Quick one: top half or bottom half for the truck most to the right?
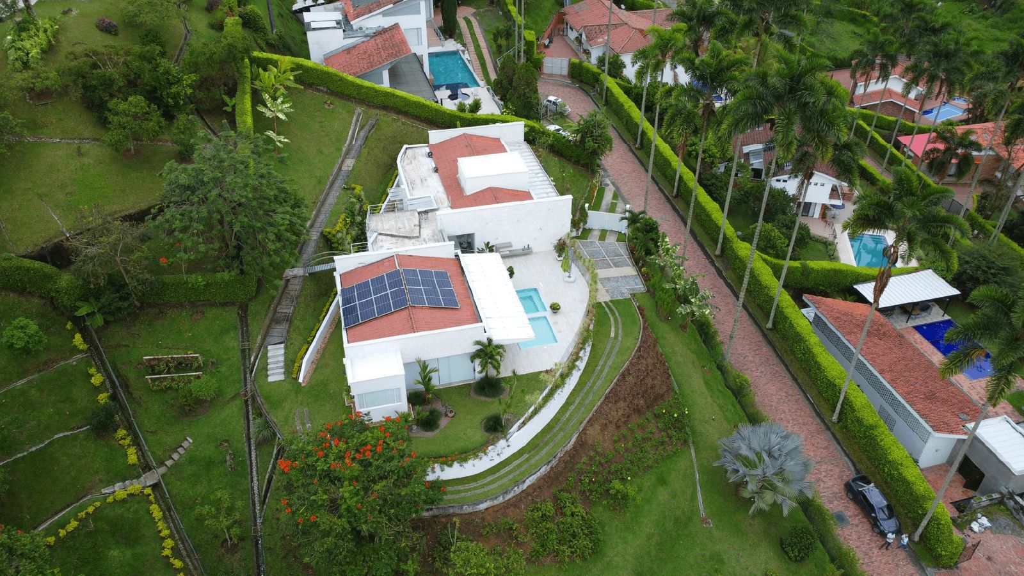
bottom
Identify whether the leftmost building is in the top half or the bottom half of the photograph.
top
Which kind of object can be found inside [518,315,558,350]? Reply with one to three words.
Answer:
swimming pool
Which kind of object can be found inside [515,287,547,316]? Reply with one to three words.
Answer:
swimming pool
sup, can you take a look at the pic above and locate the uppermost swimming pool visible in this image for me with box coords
[430,49,482,89]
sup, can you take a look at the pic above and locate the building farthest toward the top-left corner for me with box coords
[302,0,445,113]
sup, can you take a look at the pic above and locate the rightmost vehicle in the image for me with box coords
[843,468,907,541]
